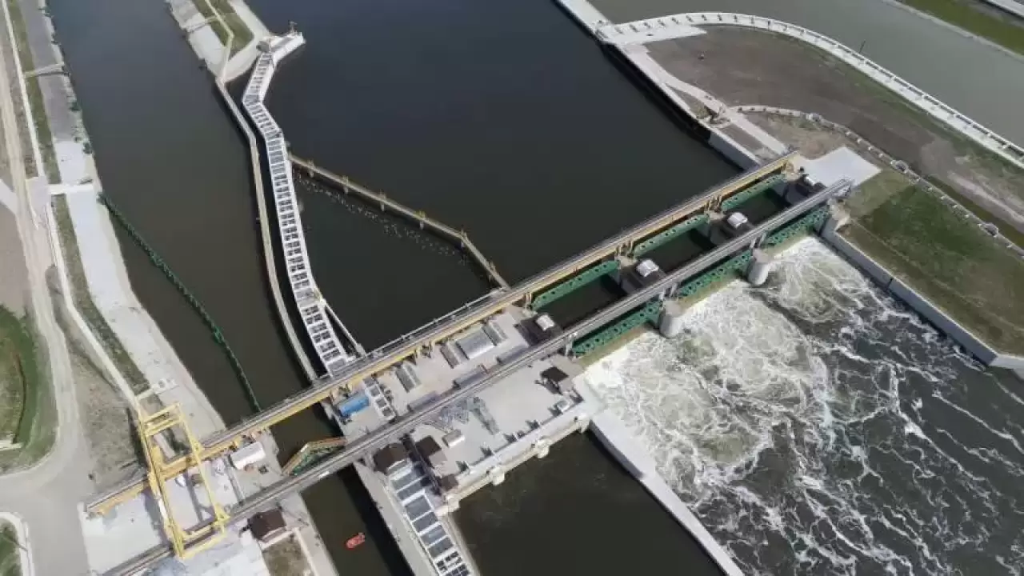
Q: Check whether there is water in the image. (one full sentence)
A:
Yes, there's water in this view.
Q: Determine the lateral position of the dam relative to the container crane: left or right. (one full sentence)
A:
The dam can be seen on the right of the container crane.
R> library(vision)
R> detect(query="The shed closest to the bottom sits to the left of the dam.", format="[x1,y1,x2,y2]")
[251,507,286,543]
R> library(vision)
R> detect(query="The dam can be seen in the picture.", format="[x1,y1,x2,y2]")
[321,166,852,576]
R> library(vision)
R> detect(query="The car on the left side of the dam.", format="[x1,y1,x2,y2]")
[172,476,193,491]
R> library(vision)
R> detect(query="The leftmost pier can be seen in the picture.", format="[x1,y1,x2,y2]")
[287,154,506,289]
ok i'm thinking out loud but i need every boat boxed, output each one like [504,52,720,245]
[345,532,363,548]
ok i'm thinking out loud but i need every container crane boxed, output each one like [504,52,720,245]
[126,401,234,562]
